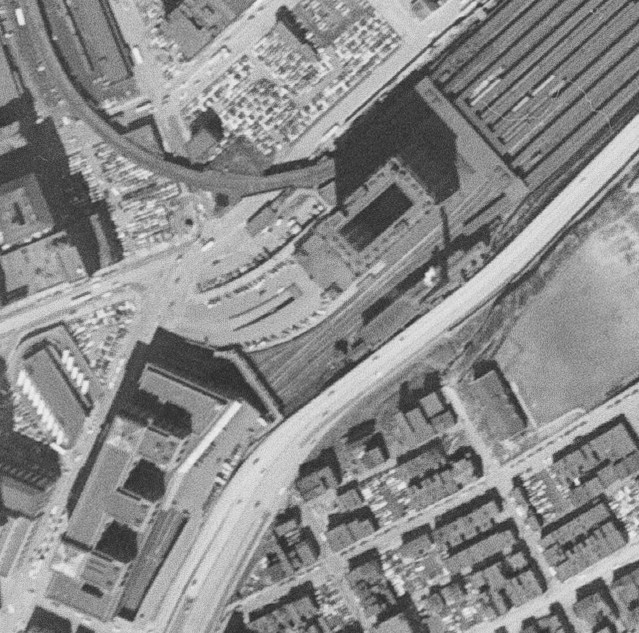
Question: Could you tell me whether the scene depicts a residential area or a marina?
residential area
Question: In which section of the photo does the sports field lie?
right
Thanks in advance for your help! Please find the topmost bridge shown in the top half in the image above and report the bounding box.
[26,0,344,193]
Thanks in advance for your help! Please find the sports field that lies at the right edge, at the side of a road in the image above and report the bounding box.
[500,200,639,424]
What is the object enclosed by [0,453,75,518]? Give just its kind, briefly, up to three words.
building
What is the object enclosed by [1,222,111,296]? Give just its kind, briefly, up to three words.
building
